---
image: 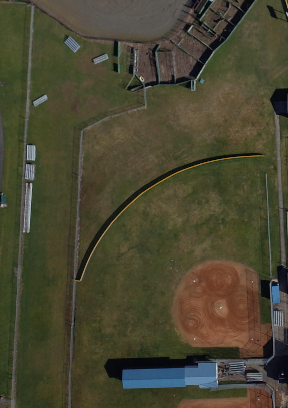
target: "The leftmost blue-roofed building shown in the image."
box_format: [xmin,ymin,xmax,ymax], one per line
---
[122,365,186,389]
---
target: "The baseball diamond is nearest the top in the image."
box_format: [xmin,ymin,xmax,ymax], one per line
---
[70,155,274,382]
